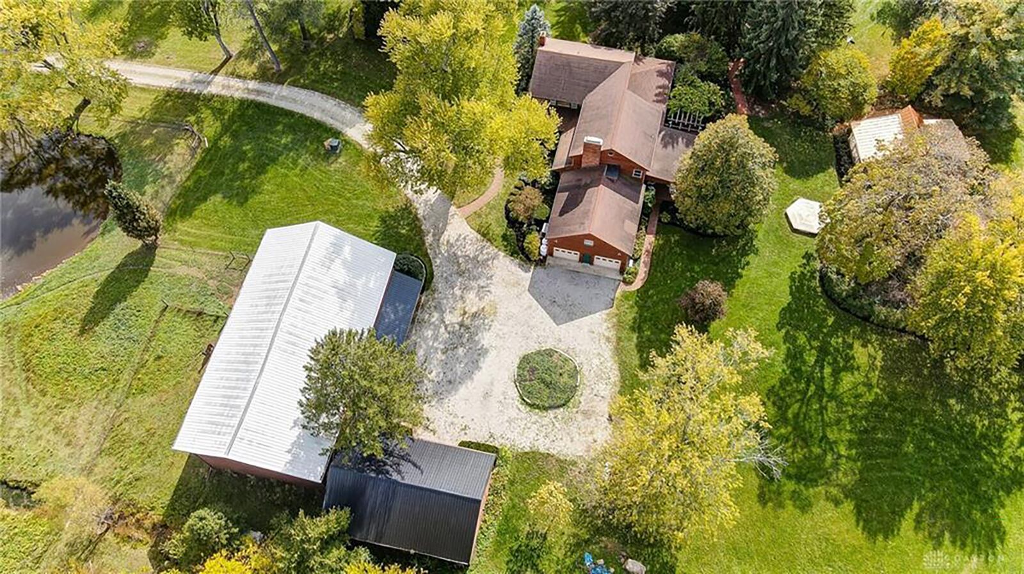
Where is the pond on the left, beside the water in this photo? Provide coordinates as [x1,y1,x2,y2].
[0,130,129,312]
